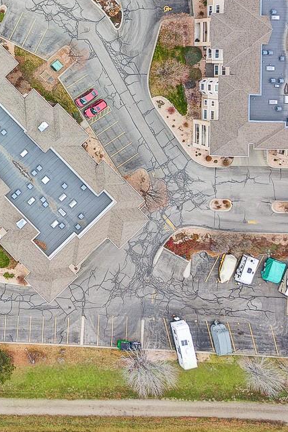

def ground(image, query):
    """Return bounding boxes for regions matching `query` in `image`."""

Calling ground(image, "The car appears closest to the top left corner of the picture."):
[75,89,100,107]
